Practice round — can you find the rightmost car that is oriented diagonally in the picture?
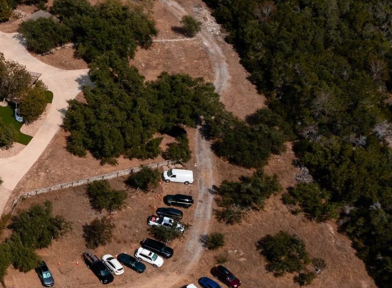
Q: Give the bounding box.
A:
[210,263,242,288]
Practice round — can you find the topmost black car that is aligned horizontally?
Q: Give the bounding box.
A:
[164,194,195,208]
